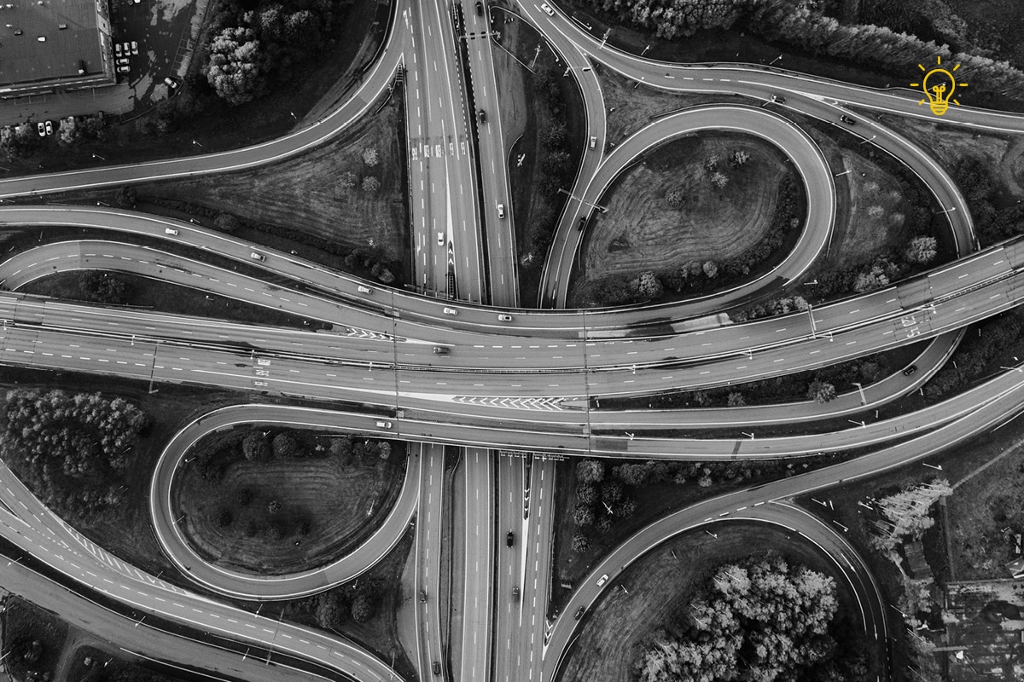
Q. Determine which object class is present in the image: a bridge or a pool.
bridge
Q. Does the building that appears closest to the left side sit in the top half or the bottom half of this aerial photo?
top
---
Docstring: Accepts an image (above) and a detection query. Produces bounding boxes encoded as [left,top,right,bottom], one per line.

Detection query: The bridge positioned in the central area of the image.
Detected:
[394,290,590,457]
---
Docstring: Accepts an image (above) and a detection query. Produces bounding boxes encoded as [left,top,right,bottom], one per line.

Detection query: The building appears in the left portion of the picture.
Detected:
[0,0,116,97]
